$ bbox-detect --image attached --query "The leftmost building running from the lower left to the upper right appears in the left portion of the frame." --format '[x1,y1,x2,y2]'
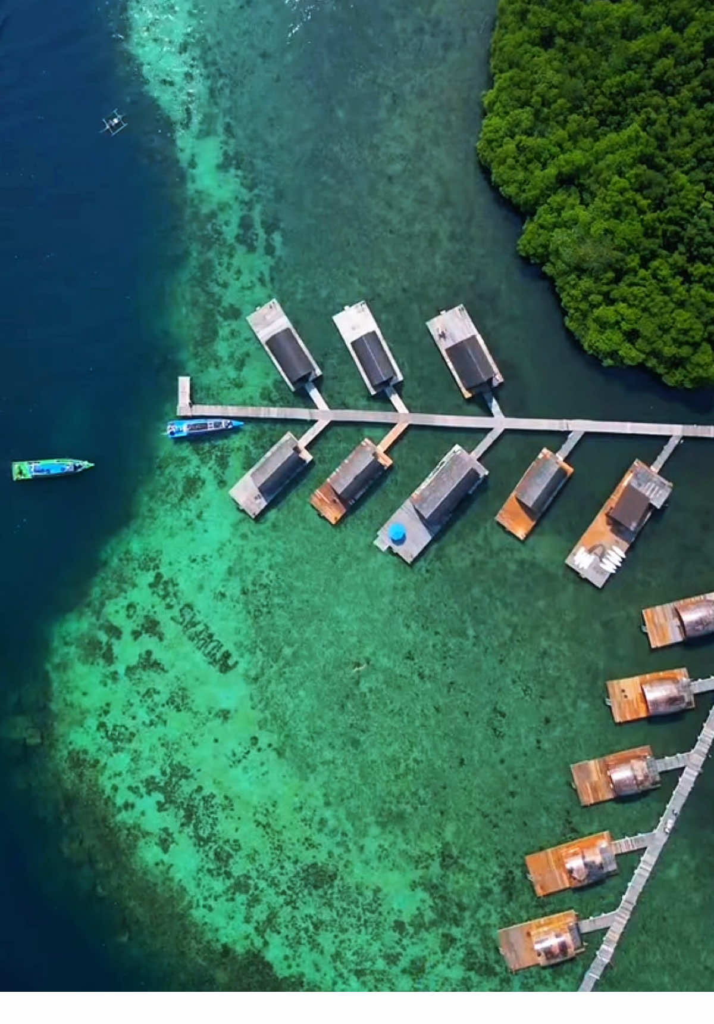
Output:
[229,432,315,519]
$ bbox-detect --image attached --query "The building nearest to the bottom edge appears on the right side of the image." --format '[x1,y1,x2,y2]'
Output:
[500,909,586,972]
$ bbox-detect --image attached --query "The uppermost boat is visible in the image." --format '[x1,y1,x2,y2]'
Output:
[101,108,128,136]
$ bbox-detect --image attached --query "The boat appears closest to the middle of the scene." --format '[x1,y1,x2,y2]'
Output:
[162,419,245,438]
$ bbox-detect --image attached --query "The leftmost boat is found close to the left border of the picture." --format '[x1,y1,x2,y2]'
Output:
[10,458,96,481]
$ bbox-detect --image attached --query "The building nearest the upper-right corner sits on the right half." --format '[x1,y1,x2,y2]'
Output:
[426,303,504,401]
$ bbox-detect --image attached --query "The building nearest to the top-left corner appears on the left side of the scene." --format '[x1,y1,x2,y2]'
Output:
[246,298,322,392]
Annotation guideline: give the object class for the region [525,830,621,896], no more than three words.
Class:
building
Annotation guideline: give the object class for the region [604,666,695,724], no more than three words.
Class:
building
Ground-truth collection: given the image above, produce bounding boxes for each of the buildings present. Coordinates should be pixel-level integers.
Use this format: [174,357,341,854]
[246,298,322,392]
[373,444,489,563]
[604,666,695,724]
[309,438,393,525]
[494,448,574,540]
[640,591,714,649]
[229,432,315,519]
[500,909,586,972]
[426,303,504,401]
[565,458,675,587]
[525,830,621,896]
[332,301,405,396]
[571,745,661,807]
